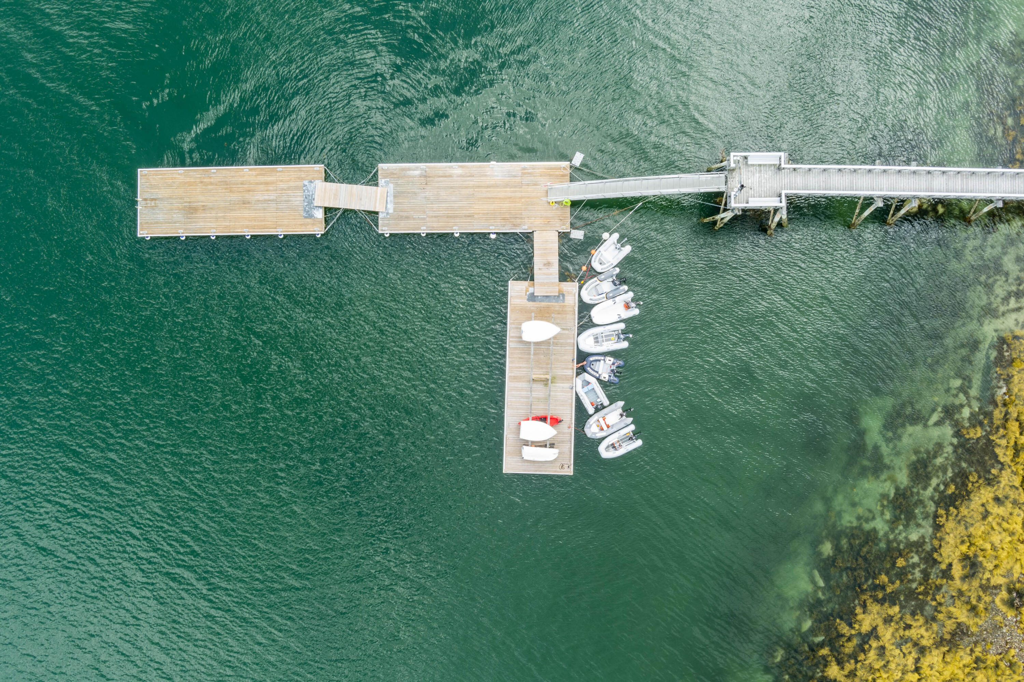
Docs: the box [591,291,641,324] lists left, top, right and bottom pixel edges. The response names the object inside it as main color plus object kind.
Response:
white boat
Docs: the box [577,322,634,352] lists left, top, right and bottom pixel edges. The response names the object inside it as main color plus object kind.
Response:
white boat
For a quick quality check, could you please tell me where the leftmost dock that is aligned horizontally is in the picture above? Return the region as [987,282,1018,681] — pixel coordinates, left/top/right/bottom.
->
[135,165,326,237]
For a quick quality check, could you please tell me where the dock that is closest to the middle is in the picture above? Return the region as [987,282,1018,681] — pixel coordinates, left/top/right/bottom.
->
[503,281,578,475]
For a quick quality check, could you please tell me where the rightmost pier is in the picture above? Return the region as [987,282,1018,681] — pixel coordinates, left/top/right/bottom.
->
[698,152,1024,236]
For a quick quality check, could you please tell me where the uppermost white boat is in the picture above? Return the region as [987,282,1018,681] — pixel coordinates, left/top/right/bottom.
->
[590,231,632,272]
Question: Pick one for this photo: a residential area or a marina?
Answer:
marina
